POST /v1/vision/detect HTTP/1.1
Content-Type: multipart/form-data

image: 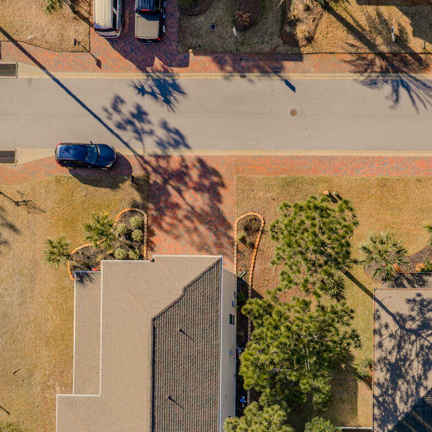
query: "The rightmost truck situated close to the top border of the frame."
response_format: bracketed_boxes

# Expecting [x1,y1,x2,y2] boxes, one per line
[135,0,165,42]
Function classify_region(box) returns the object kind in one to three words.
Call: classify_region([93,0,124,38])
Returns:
car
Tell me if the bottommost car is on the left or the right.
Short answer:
left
